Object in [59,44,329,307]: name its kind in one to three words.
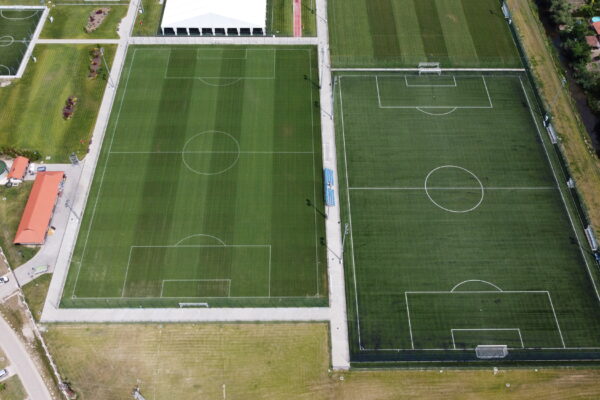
sports field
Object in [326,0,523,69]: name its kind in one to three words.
sports field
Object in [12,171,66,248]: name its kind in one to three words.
house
